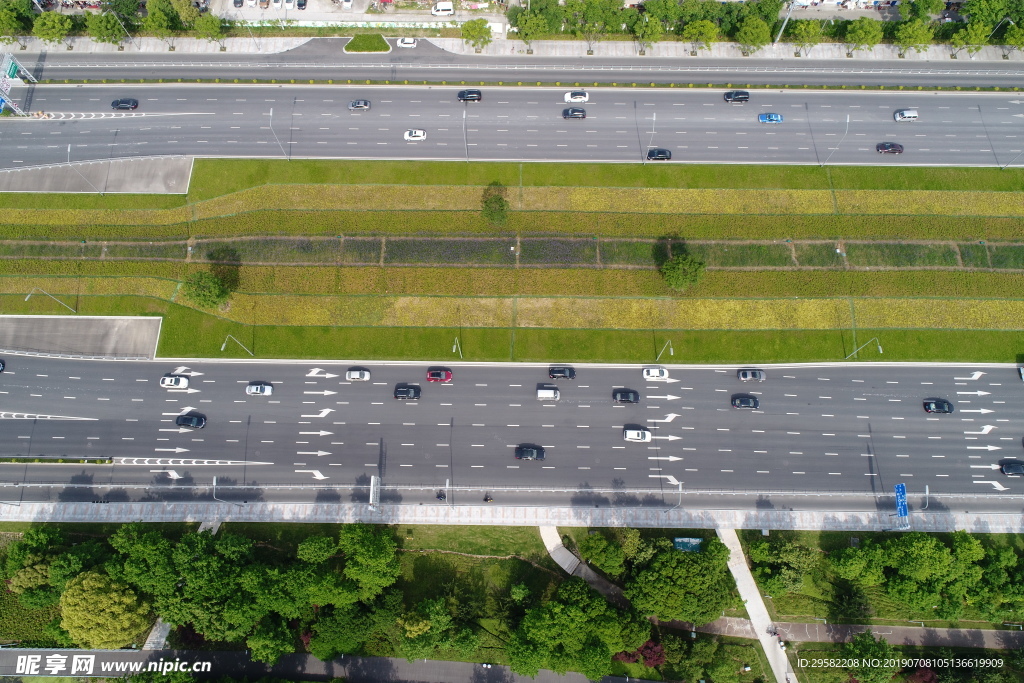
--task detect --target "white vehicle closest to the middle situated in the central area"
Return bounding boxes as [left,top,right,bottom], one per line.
[535,389,561,401]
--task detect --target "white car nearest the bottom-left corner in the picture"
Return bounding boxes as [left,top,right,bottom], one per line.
[158,376,187,389]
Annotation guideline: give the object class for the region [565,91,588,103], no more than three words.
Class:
vehicle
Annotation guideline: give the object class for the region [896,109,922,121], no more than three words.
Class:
vehicle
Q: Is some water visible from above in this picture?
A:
No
